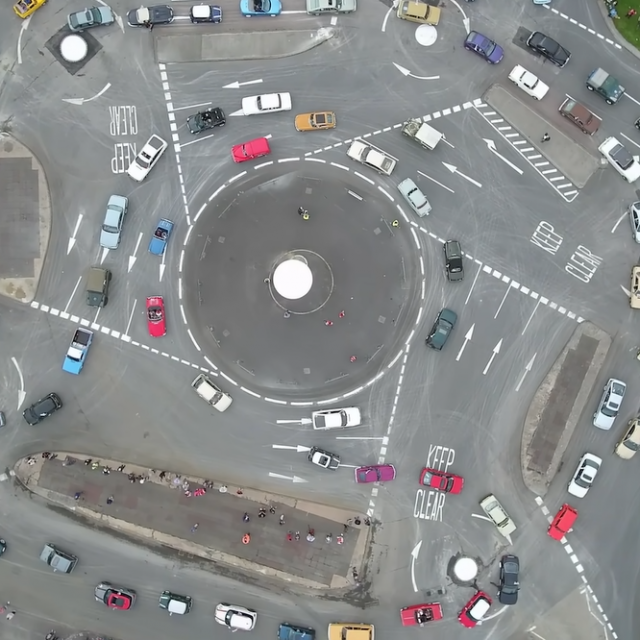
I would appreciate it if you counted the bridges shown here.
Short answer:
0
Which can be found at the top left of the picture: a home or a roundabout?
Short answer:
roundabout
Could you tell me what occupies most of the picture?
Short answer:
paved ground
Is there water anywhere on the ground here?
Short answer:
No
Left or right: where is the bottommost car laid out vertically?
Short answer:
right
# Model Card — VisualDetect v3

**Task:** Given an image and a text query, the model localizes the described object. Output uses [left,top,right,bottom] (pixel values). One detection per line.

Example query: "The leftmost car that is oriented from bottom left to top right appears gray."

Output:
[23,394,61,424]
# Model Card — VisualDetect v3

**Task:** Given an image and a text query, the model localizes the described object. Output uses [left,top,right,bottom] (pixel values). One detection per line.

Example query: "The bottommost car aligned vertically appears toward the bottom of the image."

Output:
[499,554,521,604]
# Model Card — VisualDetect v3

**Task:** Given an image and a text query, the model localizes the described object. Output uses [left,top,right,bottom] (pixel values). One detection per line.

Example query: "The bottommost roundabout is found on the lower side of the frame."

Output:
[448,554,480,586]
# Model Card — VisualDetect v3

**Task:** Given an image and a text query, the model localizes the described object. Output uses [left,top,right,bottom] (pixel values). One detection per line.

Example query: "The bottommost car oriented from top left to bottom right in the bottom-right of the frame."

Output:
[480,494,515,536]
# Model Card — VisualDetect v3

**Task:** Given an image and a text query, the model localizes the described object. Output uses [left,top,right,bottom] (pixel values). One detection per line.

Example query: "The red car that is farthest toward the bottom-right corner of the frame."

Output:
[548,504,578,540]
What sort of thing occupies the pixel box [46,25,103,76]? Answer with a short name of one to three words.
roundabout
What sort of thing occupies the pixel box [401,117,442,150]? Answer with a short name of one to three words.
vehicle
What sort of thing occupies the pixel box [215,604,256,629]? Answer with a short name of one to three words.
car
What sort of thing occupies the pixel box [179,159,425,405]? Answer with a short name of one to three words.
roundabout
